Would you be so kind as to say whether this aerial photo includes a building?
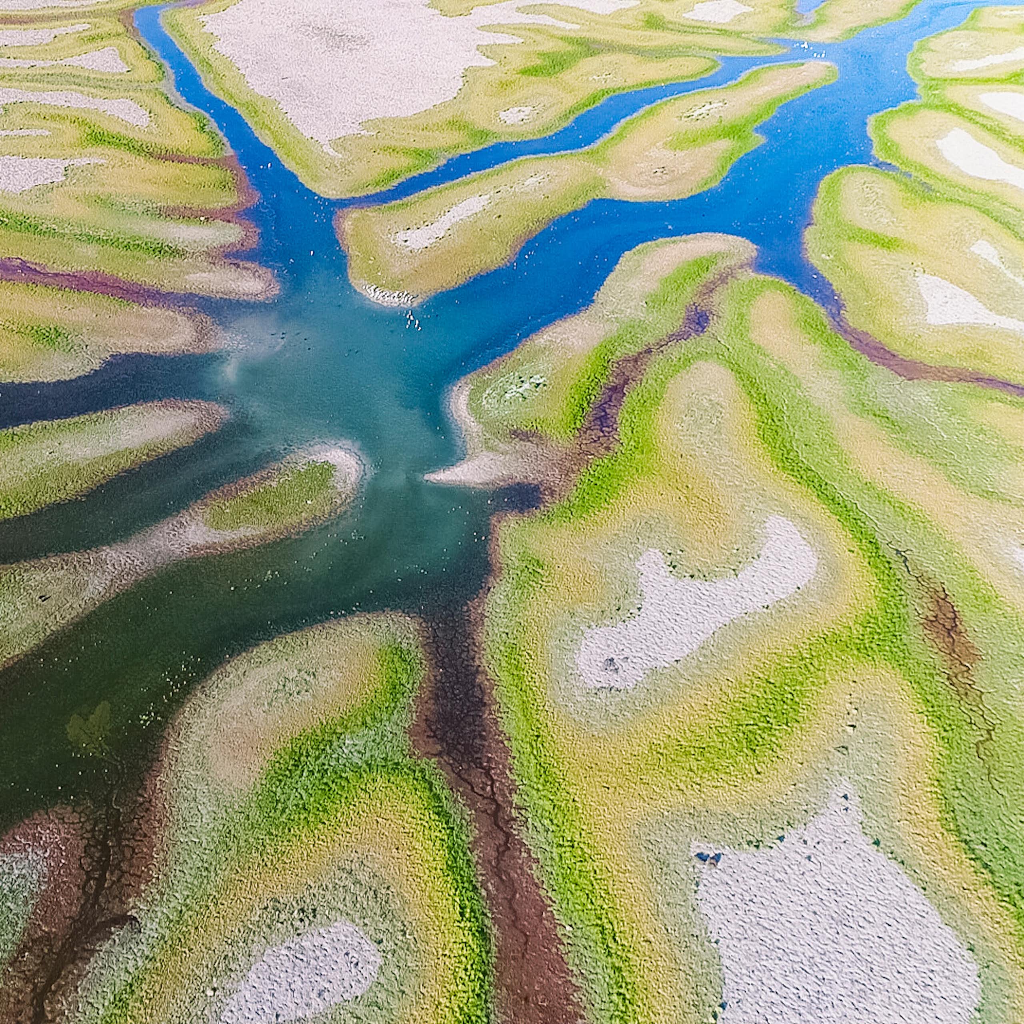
No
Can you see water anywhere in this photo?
Yes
